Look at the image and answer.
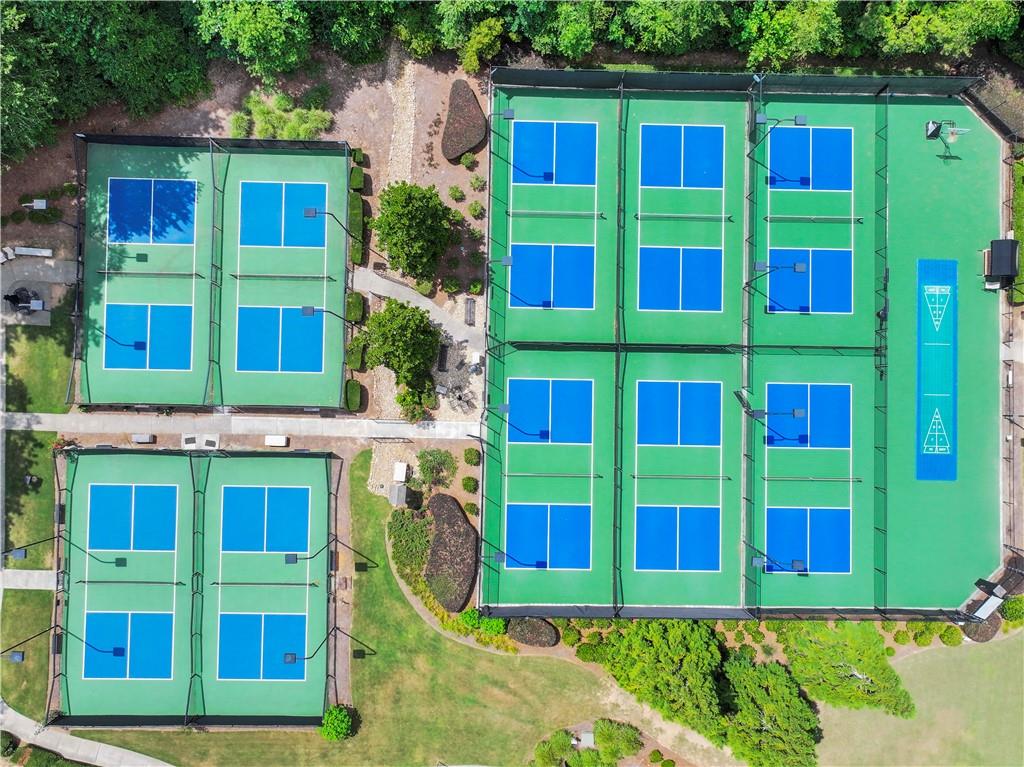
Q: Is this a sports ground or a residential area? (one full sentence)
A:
What you see here is a sports ground.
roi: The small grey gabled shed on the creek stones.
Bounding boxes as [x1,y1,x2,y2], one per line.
[386,483,405,508]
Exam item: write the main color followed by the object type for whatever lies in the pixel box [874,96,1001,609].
green basketball court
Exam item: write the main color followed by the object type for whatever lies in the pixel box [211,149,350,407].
green sports court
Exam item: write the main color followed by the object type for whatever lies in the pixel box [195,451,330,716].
green sports court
